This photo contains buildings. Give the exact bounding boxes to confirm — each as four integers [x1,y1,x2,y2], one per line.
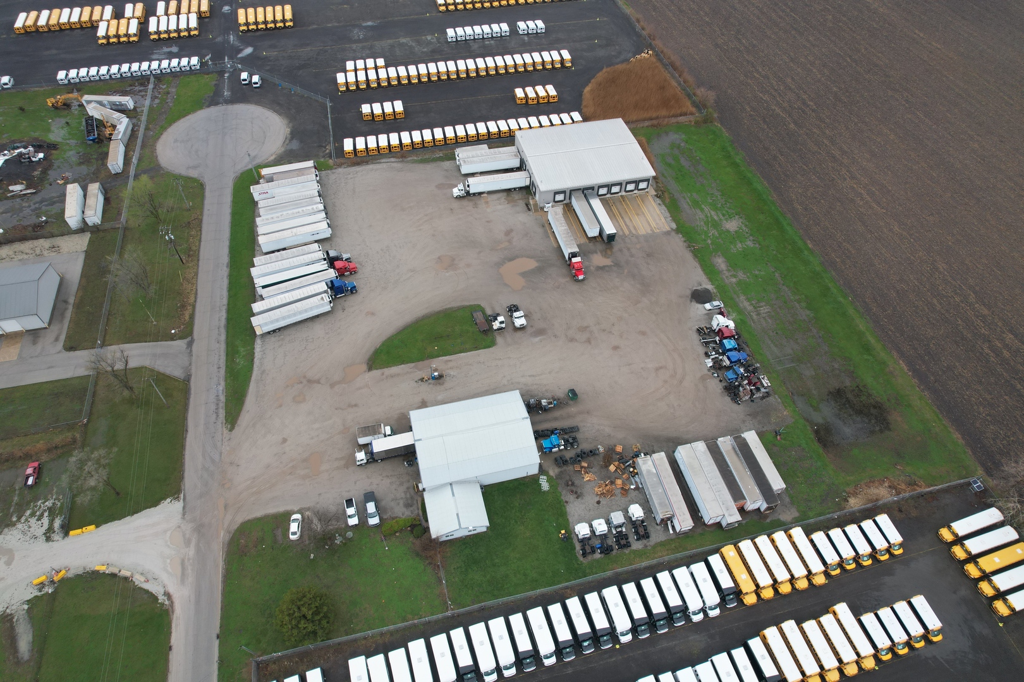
[514,118,654,206]
[410,390,540,492]
[0,262,61,335]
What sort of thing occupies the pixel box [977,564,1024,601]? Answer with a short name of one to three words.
bus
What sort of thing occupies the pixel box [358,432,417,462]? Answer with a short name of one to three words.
truck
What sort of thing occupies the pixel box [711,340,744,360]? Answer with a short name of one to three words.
vehicle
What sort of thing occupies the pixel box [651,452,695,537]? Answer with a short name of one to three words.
trailer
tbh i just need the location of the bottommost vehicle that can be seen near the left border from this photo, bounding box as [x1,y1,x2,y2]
[24,464,39,486]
